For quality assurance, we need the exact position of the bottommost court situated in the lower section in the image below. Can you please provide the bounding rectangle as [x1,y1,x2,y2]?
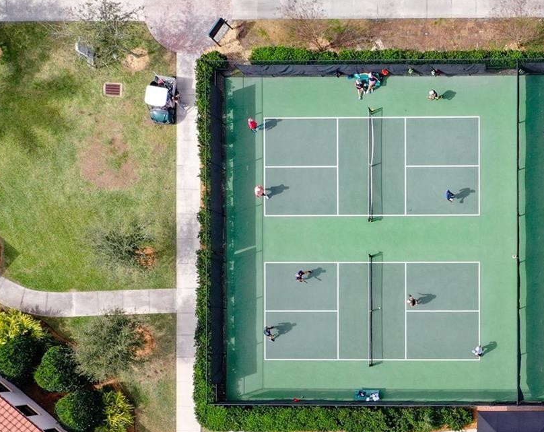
[264,262,481,361]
